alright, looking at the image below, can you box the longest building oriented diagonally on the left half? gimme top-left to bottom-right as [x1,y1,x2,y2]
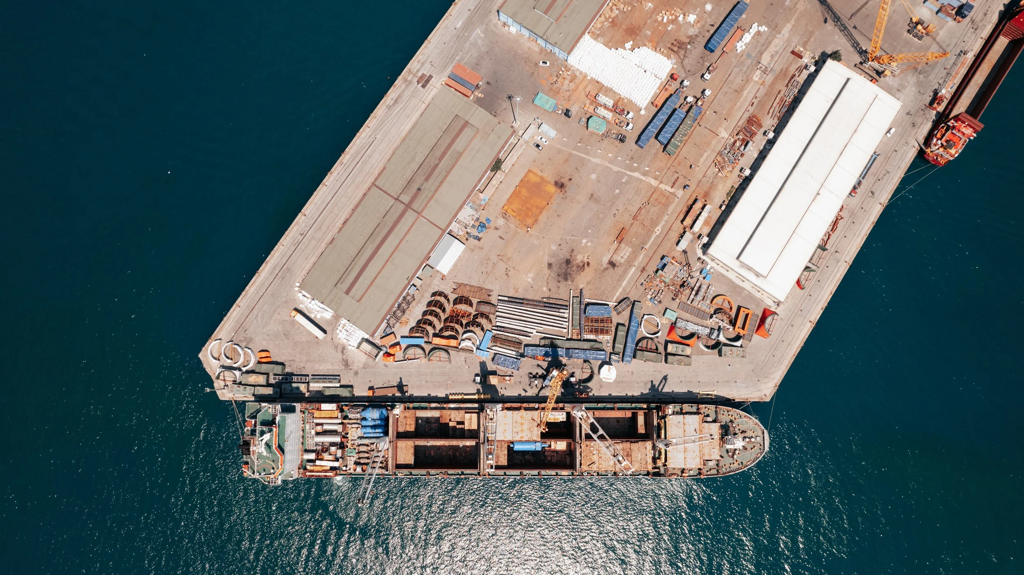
[299,85,516,338]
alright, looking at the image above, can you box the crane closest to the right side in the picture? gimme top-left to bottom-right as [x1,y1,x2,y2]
[924,50,974,111]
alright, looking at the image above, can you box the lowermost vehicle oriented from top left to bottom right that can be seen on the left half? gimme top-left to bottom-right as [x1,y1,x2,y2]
[290,310,326,339]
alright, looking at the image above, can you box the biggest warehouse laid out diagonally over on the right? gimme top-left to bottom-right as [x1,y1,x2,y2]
[695,59,902,309]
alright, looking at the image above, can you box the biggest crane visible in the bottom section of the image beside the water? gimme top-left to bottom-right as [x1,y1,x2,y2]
[528,362,575,433]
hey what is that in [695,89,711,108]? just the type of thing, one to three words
vehicle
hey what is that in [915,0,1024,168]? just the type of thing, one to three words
ship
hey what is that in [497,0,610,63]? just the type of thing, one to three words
building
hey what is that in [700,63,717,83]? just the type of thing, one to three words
vehicle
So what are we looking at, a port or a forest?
port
